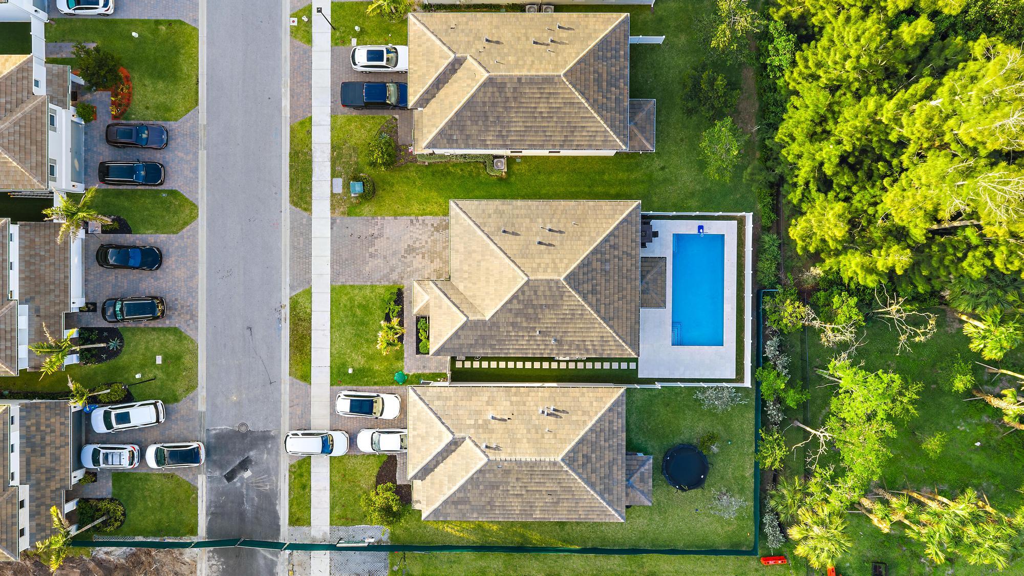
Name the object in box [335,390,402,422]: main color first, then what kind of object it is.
white car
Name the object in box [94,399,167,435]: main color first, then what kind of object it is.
white car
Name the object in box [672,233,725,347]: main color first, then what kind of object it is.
blue swimming pool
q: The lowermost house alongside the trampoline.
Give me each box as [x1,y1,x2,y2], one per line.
[406,384,654,523]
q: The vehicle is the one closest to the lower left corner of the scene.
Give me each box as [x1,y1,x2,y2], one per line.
[82,442,143,472]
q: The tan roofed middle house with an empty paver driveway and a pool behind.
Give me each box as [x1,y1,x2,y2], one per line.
[411,198,668,359]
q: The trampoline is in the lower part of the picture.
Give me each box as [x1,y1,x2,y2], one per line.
[661,443,717,498]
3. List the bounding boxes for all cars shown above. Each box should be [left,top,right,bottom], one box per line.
[284,428,350,459]
[102,294,169,325]
[357,427,406,457]
[82,442,143,472]
[57,0,118,17]
[98,158,168,188]
[105,120,172,150]
[350,42,406,74]
[96,242,166,272]
[147,440,207,471]
[94,399,167,435]
[335,390,402,422]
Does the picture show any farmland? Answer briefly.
No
